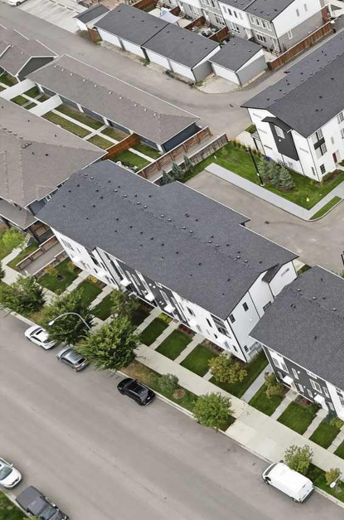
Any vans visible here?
Yes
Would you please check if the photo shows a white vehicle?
Yes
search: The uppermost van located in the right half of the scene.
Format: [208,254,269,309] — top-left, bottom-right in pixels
[259,463,315,506]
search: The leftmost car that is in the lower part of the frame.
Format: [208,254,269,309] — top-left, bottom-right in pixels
[0,461,24,490]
